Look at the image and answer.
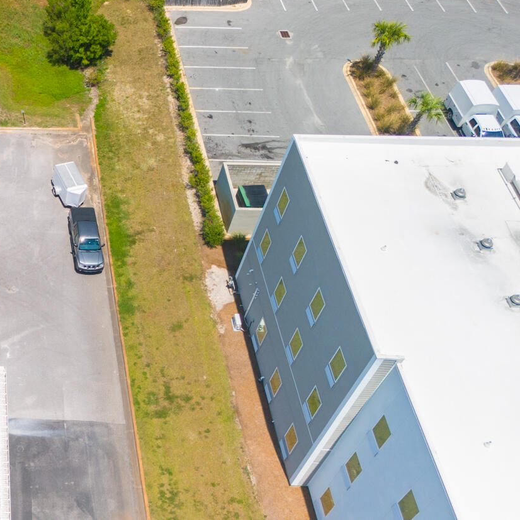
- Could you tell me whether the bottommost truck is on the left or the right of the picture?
left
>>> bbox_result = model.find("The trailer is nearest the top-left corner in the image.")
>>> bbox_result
[50,157,89,205]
